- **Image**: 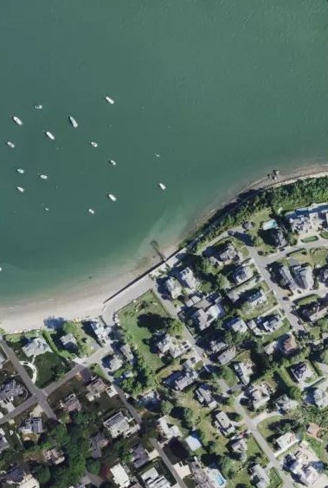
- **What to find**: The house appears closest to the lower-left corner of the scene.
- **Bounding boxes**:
[1,464,25,487]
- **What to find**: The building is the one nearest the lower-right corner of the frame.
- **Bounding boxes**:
[303,466,328,488]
